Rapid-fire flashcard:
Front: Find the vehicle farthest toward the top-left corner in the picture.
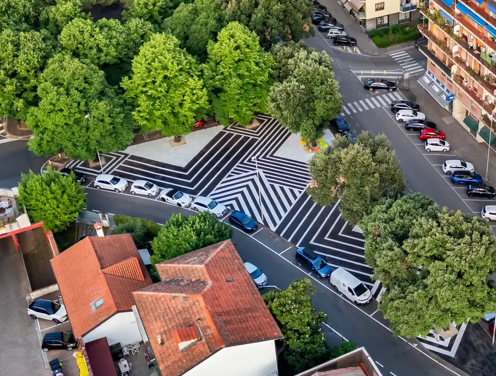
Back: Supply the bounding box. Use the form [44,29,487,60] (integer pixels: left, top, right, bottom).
[57,166,90,183]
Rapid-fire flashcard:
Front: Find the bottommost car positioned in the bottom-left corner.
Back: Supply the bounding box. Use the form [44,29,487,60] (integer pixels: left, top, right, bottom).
[37,331,77,354]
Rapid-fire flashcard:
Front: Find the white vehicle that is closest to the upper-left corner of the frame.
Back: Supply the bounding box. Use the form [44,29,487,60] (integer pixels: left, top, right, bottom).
[92,172,130,195]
